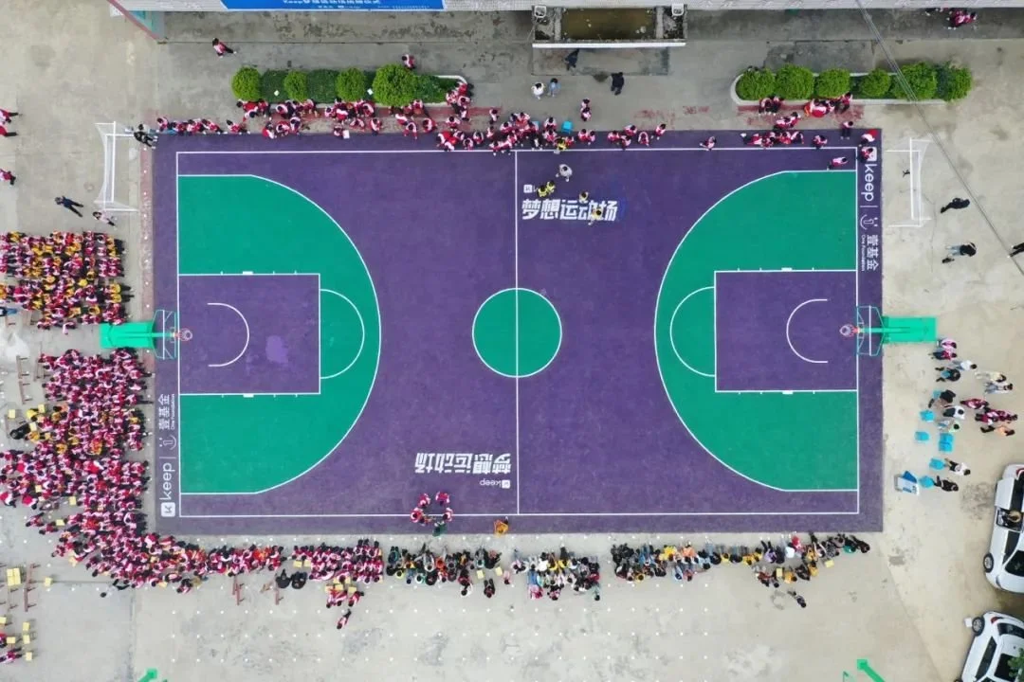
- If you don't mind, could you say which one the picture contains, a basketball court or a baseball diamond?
basketball court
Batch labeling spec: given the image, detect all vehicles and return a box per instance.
[982,463,1024,596]
[955,607,1024,682]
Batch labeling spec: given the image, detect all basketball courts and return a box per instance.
[152,129,884,535]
